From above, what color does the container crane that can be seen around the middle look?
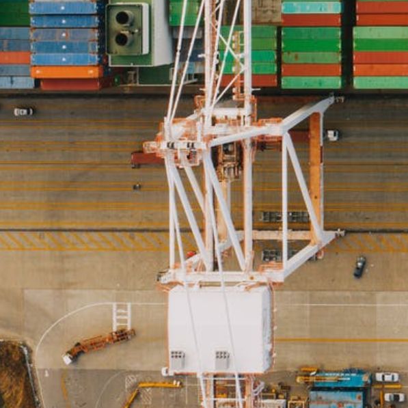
white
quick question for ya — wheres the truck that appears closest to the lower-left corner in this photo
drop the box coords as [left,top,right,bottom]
[65,343,89,365]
